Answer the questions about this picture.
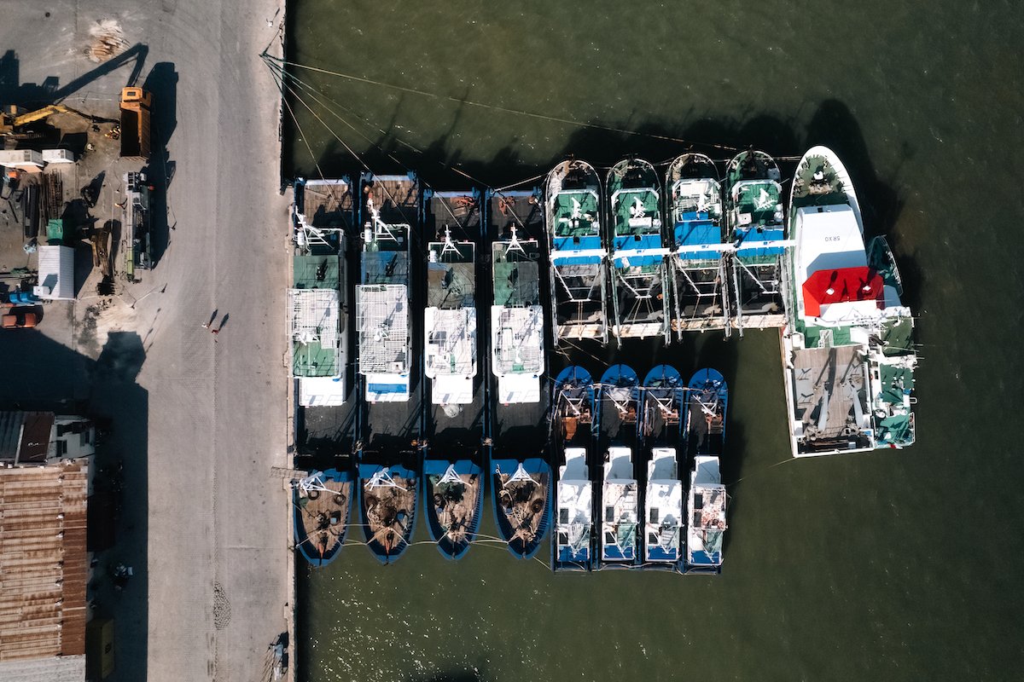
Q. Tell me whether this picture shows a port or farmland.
port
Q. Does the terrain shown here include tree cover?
No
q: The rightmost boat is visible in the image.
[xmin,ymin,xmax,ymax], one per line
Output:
[863,236,924,450]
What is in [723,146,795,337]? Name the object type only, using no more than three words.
boat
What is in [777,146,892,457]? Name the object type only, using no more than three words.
ship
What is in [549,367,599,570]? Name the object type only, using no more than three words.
boat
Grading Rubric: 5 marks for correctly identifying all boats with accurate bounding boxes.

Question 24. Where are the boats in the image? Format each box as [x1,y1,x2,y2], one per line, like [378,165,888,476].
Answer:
[606,154,672,346]
[595,365,647,568]
[355,172,421,564]
[421,183,484,561]
[547,156,610,347]
[637,365,688,568]
[286,176,358,567]
[863,236,924,450]
[549,367,599,570]
[723,146,795,337]
[664,148,732,340]
[683,369,732,572]
[487,182,552,561]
